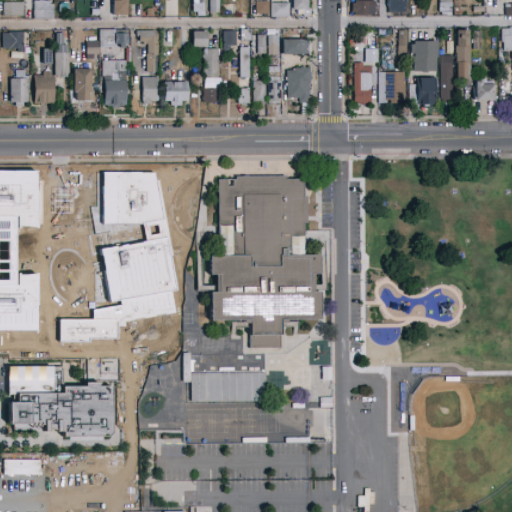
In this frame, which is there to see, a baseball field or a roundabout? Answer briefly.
baseball field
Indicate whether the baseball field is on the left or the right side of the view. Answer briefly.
right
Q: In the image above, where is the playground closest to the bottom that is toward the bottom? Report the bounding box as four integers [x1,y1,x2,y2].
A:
[140,392,166,418]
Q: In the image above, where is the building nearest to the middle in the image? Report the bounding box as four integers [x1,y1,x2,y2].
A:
[212,176,322,348]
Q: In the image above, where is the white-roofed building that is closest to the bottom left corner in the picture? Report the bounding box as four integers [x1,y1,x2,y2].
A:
[4,460,43,476]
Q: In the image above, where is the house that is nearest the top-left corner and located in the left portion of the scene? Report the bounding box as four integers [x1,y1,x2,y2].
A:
[2,1,25,16]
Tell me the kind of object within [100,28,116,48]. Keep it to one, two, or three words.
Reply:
building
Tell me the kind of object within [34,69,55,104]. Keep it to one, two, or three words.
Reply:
house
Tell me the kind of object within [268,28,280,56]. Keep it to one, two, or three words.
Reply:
house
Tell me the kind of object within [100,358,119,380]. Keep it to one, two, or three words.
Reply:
shed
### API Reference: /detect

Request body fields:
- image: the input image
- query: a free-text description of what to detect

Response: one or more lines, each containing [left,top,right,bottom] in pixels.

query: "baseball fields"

[414,377,475,440]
